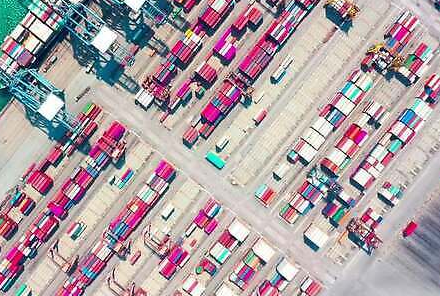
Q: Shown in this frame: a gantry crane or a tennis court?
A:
gantry crane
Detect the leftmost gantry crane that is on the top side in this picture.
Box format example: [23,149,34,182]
[0,58,76,128]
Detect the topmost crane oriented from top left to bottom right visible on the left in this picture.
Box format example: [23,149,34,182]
[47,0,130,62]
